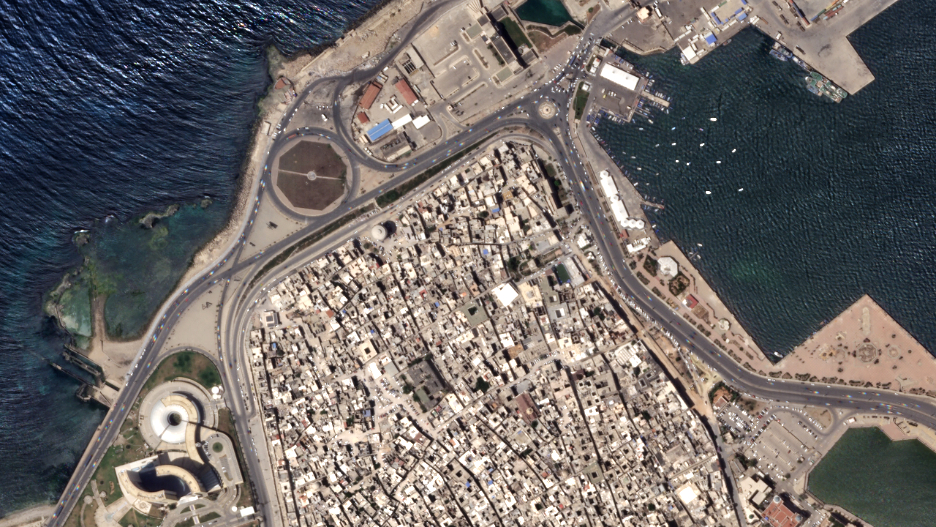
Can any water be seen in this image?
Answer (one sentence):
Yes, there is water in the image.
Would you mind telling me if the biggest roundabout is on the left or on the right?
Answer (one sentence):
The biggest roundabout appears in the left half of the scene.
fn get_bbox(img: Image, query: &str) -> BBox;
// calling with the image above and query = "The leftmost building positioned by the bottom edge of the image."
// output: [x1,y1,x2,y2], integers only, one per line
[115,378,223,513]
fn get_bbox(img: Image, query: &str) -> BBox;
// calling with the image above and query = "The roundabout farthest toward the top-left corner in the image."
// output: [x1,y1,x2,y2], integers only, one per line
[263,126,361,226]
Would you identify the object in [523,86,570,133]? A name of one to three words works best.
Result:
roundabout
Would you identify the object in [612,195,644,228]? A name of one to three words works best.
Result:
building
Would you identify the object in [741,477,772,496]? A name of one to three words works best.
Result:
building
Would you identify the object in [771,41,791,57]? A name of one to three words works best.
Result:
ship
